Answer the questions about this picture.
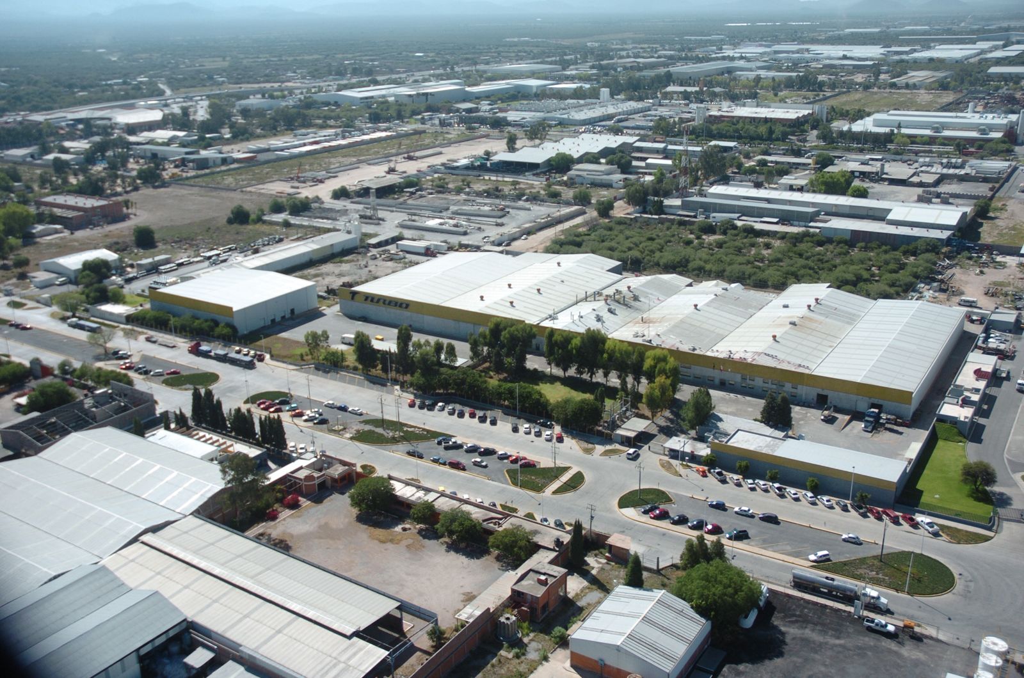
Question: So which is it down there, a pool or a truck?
truck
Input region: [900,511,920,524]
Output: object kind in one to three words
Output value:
vehicle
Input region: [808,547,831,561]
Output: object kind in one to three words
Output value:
vehicle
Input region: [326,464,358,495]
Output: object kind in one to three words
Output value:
house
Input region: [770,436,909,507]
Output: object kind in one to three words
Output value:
building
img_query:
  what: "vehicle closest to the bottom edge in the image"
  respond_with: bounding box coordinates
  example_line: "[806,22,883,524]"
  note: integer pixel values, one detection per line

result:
[864,619,895,635]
